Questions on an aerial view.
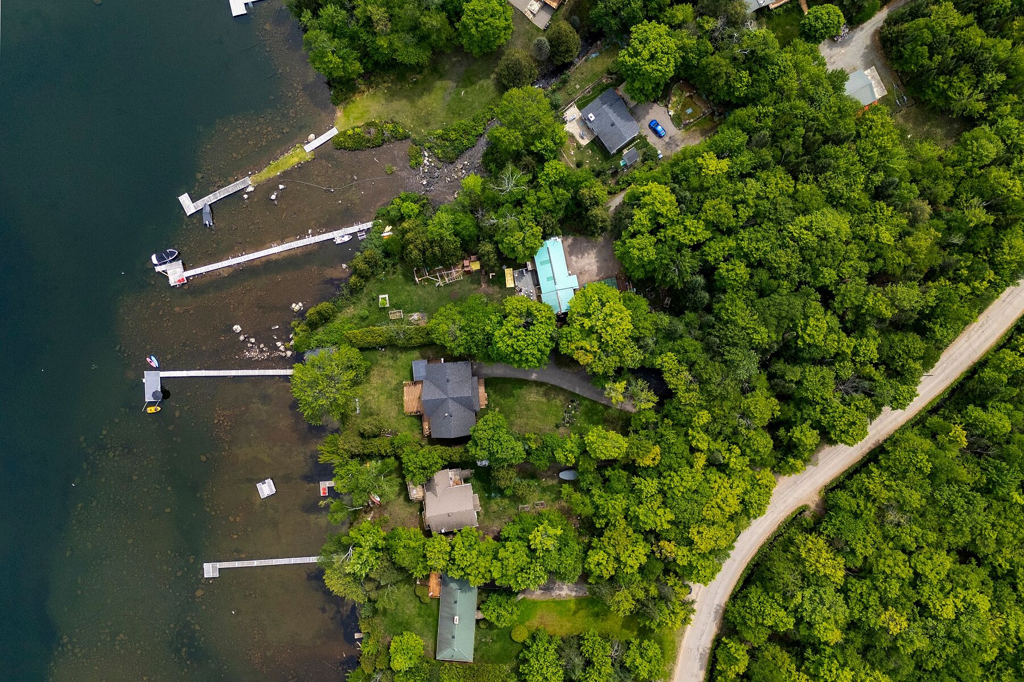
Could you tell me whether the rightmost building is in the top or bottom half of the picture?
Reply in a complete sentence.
The top half of the photo is where the rightmost building is.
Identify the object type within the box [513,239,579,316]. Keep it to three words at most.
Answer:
house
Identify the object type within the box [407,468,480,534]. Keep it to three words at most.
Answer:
house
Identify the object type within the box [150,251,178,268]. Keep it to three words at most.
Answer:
boat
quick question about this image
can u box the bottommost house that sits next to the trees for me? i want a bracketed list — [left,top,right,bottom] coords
[417,570,483,662]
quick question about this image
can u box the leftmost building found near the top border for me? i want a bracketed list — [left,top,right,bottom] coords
[506,0,562,32]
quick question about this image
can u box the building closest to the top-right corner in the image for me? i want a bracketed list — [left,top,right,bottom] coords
[835,66,887,110]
